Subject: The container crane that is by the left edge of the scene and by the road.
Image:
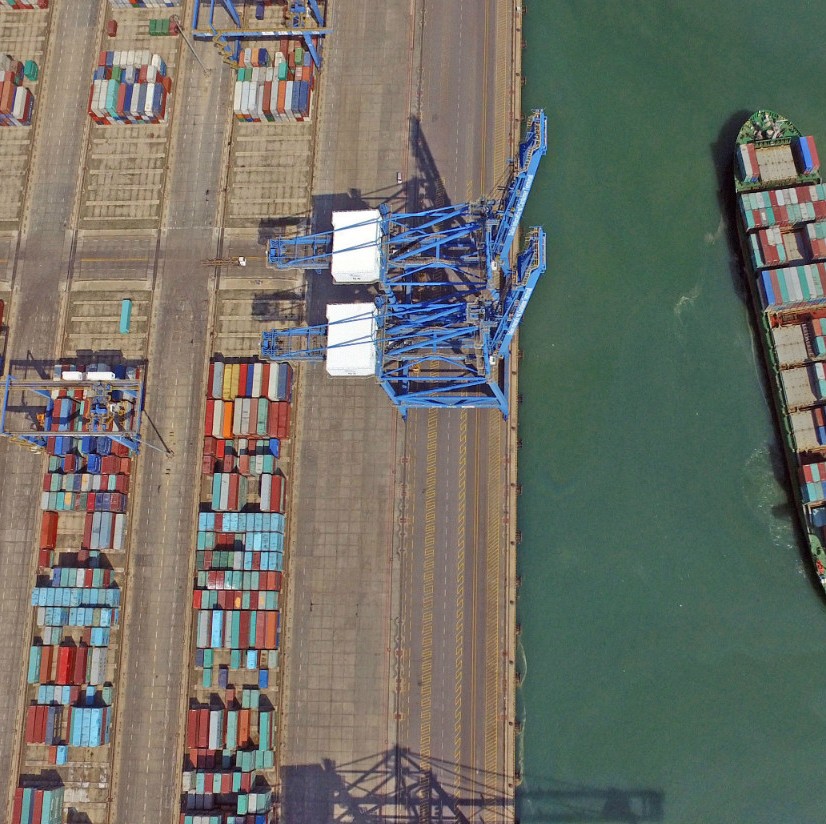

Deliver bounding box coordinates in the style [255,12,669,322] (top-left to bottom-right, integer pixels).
[0,364,146,454]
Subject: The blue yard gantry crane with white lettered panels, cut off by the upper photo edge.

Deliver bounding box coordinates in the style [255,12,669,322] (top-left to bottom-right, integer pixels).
[190,0,332,69]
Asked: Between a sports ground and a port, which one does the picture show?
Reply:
port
